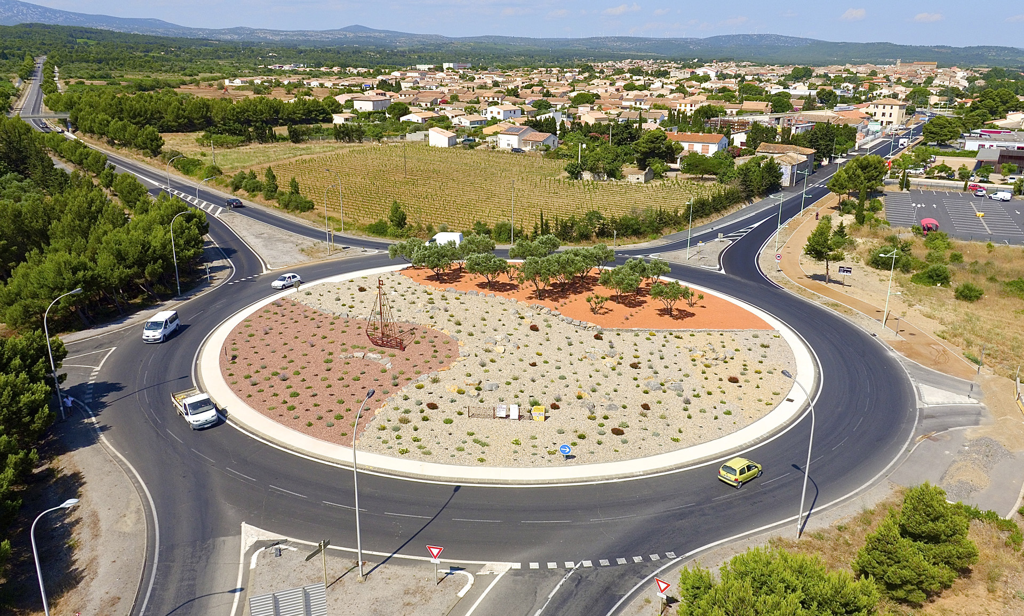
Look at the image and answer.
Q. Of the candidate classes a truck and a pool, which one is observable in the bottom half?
truck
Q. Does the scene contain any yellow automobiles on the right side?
Yes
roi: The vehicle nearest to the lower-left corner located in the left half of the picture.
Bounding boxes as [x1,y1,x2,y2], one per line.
[172,391,219,430]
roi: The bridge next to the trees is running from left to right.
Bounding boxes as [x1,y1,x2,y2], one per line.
[0,110,80,133]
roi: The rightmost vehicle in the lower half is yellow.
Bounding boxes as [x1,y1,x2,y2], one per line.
[718,457,764,489]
